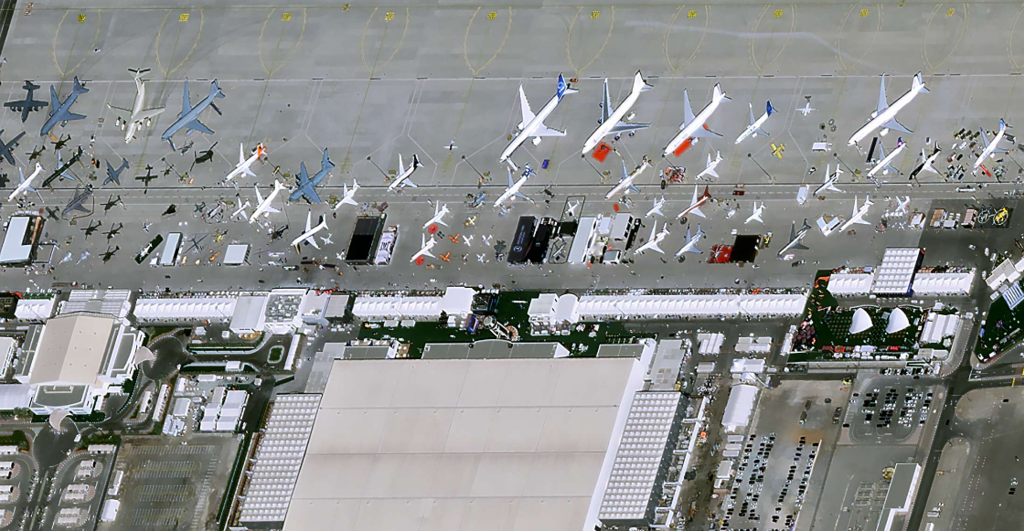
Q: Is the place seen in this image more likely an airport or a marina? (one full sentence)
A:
This image shows an airport.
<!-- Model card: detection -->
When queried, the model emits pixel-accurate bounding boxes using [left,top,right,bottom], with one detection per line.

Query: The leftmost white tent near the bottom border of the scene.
[100,499,123,523]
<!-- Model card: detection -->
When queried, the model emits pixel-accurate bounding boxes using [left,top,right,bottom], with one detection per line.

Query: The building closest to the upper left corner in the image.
[0,217,35,266]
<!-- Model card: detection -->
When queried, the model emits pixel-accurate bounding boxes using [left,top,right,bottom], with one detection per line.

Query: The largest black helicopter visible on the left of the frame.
[192,141,217,168]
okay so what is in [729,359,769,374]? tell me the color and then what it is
white tent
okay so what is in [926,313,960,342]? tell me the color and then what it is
white tent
